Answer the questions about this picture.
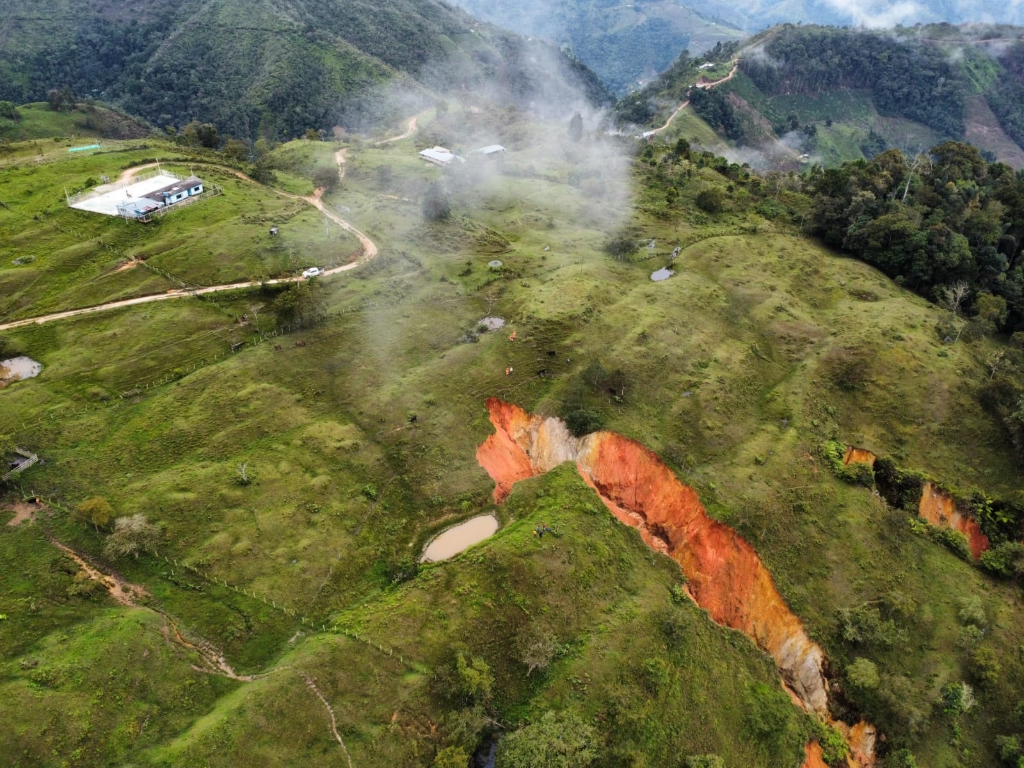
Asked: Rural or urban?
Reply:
rural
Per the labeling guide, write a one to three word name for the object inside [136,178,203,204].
building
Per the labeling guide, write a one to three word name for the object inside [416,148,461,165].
house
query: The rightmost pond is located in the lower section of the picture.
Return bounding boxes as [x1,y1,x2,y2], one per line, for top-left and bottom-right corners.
[421,515,498,562]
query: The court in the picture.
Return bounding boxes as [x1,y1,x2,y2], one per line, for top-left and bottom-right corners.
[70,174,178,216]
